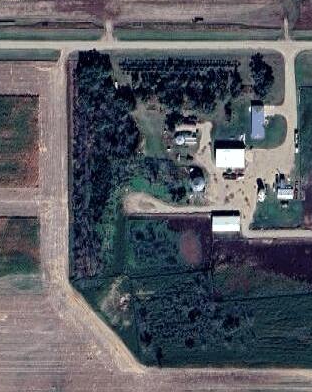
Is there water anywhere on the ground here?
No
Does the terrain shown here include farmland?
Yes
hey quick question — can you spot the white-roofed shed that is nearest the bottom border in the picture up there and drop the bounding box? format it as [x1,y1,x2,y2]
[212,216,241,232]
